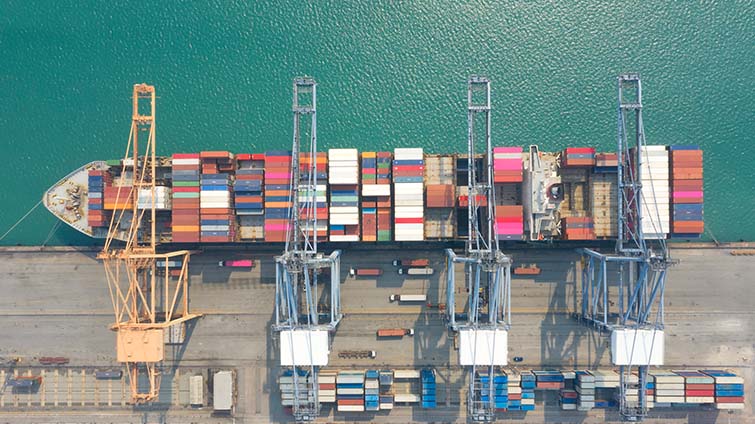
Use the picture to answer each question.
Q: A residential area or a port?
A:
port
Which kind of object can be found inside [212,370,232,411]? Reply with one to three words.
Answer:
shed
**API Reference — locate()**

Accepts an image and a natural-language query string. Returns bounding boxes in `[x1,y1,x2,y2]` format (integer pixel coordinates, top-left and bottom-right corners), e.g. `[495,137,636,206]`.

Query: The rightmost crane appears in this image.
[565,74,681,418]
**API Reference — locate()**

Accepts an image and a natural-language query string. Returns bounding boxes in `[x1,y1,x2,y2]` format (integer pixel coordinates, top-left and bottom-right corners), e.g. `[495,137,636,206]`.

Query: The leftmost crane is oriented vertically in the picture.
[96,83,212,403]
